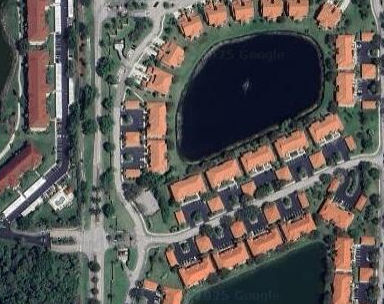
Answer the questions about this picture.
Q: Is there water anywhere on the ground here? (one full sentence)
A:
Yes, the picture does contain water.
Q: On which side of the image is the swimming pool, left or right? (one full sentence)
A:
The swimming pool is on the left side of the image.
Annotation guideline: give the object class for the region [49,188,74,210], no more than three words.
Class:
swimming pool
